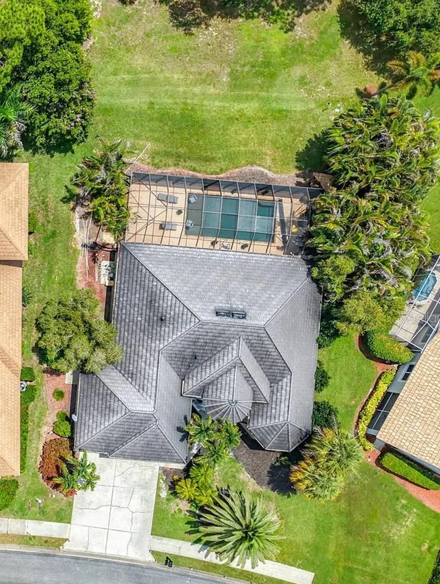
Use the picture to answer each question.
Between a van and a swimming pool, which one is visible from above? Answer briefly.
swimming pool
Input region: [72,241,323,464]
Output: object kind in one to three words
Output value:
house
